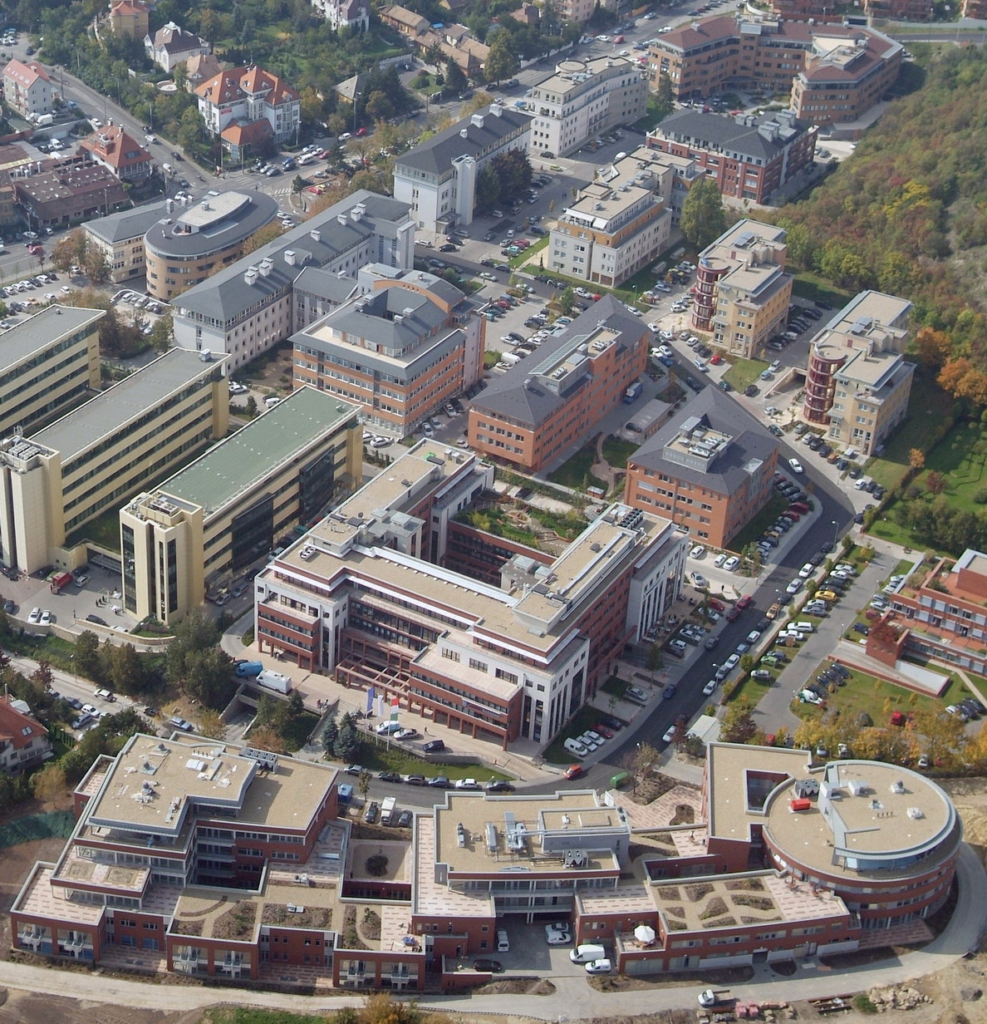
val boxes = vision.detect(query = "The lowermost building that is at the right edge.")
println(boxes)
[641,742,964,967]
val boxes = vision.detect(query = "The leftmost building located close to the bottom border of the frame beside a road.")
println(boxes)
[11,731,426,984]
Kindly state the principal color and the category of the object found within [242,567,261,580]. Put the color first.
black vehicle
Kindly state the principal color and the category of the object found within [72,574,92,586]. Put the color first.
gray vehicle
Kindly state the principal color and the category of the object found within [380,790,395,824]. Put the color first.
white vehicle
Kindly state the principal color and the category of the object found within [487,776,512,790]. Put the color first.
gray car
